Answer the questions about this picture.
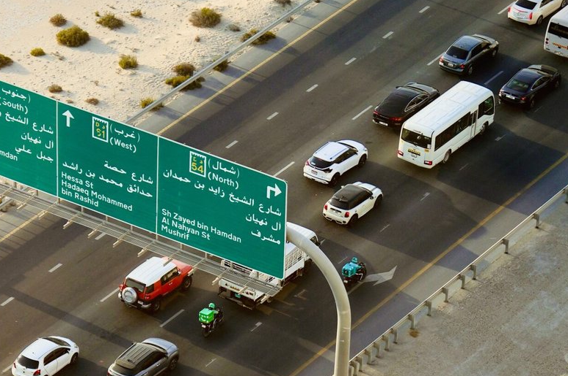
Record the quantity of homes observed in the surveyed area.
0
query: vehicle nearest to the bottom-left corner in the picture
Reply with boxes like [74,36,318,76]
[11,335,80,376]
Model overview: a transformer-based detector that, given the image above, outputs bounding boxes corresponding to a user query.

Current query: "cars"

[323,178,385,223]
[105,338,181,376]
[506,0,565,26]
[439,33,499,77]
[496,63,562,111]
[302,139,368,186]
[11,335,80,376]
[112,255,196,313]
[377,88,440,136]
